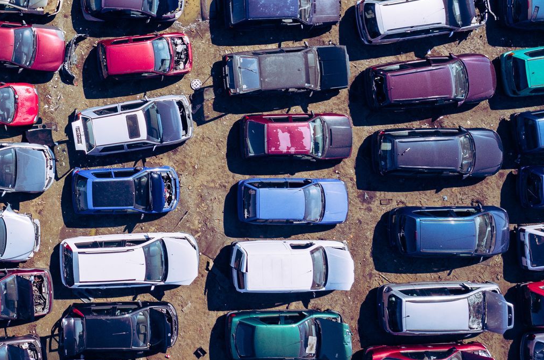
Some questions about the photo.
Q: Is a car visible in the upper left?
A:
Yes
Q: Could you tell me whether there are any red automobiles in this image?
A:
Yes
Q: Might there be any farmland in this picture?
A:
No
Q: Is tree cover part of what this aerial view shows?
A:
No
